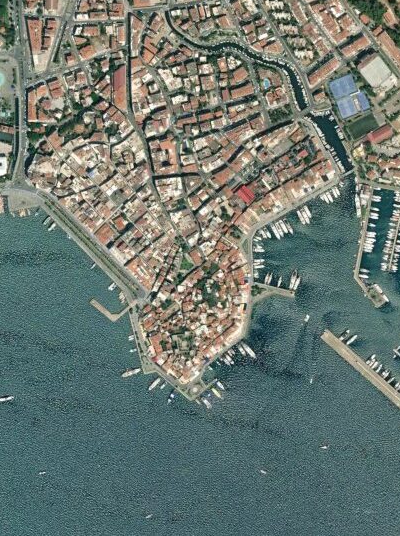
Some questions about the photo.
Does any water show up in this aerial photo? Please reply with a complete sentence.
Yes, water can be seen from above here.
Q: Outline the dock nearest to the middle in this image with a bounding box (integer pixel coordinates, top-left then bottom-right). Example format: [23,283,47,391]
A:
[252,282,295,306]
